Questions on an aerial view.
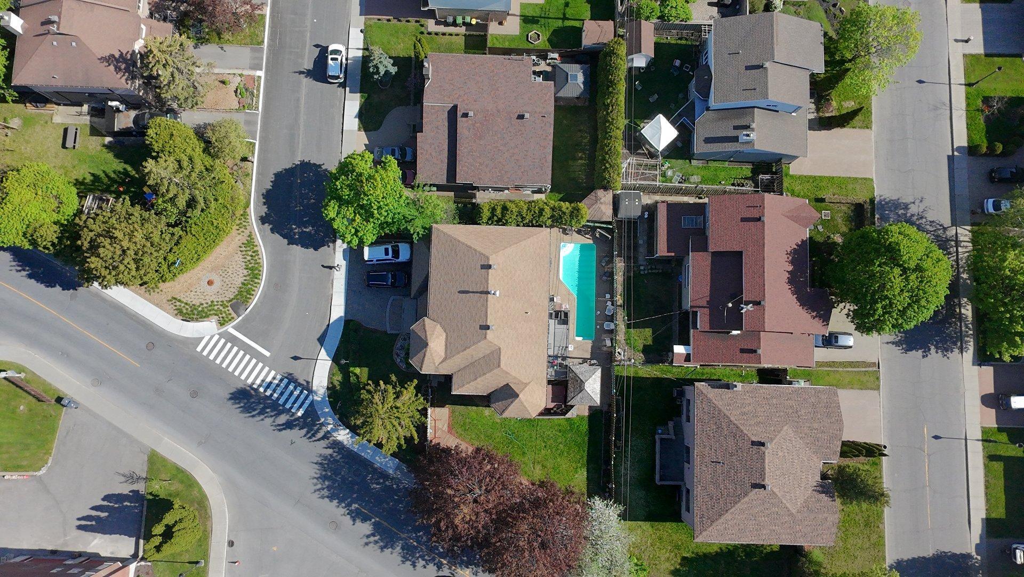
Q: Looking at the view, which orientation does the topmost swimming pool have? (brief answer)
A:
vertically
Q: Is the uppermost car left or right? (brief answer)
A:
left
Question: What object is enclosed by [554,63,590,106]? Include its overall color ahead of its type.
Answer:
gray gazebo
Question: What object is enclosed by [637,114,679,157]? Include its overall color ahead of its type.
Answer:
white tent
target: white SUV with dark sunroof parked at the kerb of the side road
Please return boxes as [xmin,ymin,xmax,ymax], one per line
[326,44,346,84]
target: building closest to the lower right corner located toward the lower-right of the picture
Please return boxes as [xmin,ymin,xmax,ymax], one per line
[683,382,844,546]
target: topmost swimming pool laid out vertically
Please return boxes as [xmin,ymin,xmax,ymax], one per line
[558,241,597,342]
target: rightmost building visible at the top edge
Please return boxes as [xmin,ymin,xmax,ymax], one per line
[689,11,825,165]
